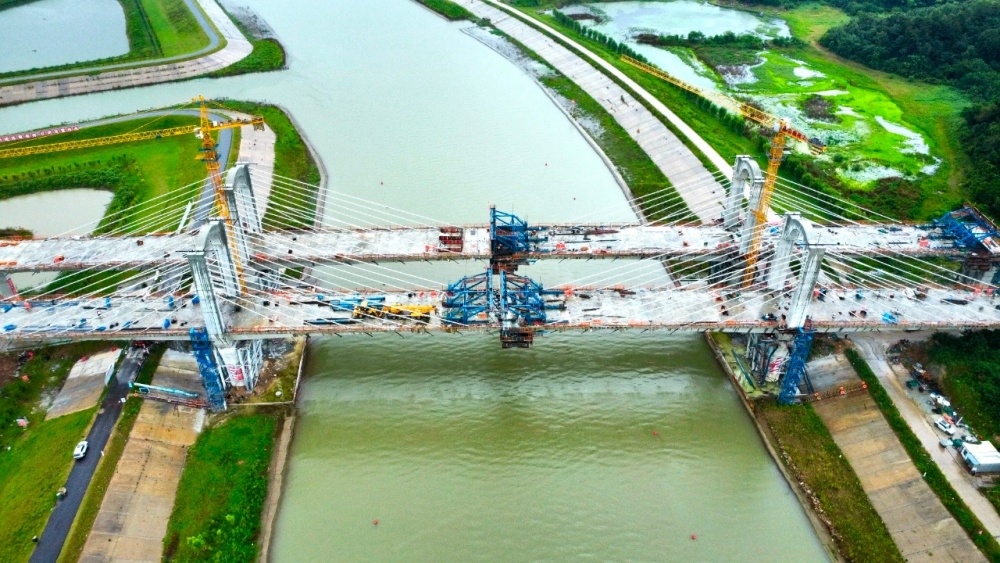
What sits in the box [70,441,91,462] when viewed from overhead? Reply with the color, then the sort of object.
white car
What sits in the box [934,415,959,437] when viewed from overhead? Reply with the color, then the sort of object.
white car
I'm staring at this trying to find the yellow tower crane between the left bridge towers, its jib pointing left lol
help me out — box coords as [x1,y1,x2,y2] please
[0,94,271,368]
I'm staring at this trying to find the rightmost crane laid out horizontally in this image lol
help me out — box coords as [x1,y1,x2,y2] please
[383,298,443,322]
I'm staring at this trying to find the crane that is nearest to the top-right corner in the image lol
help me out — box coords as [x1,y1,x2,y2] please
[614,47,835,360]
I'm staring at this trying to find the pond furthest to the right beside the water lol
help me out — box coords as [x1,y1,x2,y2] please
[557,0,779,133]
